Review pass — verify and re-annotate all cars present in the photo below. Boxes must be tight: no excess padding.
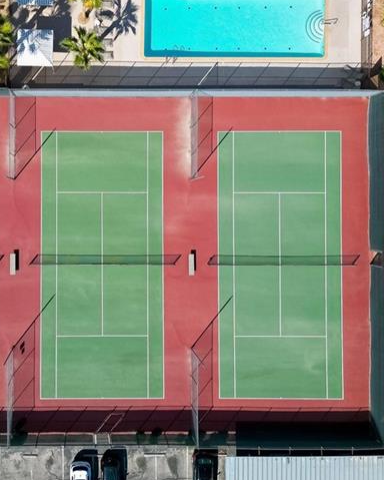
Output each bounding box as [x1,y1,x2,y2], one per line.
[192,450,215,480]
[100,451,123,480]
[70,458,92,480]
